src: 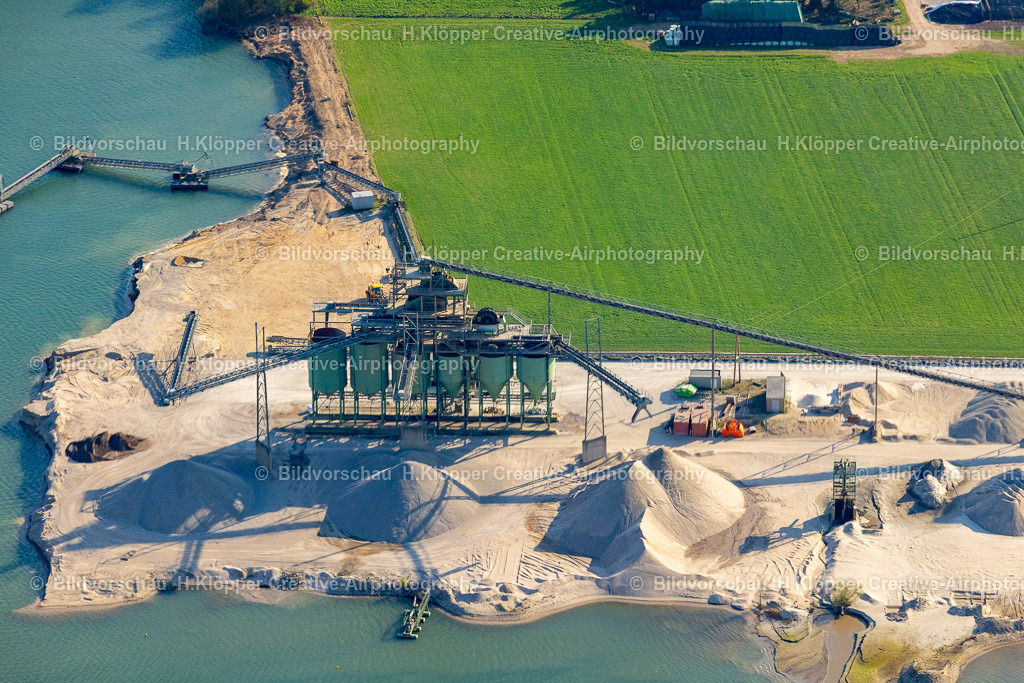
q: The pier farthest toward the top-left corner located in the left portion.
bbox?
[50,130,95,171]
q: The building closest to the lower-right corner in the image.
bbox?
[765,370,788,413]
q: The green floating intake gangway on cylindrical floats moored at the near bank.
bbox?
[399,577,443,637]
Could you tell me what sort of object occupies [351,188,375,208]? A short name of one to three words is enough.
shed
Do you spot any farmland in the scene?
Yes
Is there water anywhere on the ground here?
Yes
